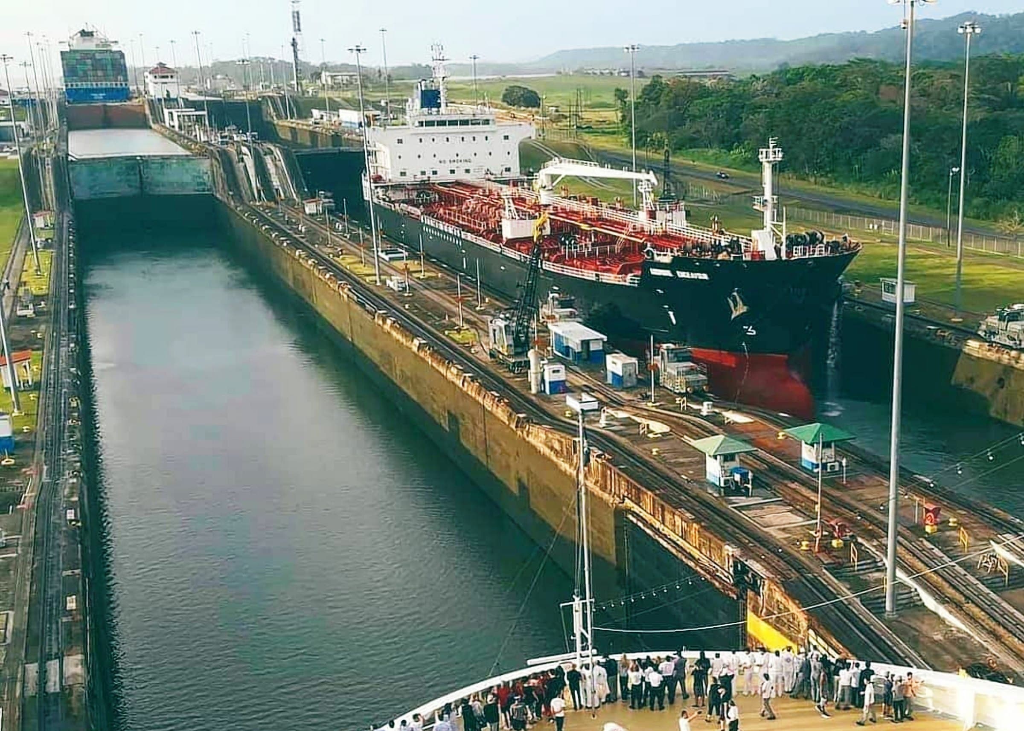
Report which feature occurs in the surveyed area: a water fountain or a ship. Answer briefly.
ship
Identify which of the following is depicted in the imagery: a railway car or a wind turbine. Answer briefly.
railway car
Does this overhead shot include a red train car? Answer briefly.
No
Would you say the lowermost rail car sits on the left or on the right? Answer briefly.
right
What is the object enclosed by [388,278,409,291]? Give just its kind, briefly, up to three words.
vehicle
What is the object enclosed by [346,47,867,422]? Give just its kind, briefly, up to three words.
ship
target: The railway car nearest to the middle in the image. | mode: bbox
[535,292,576,320]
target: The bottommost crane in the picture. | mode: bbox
[500,215,552,366]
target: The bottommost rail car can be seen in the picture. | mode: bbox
[648,349,714,392]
